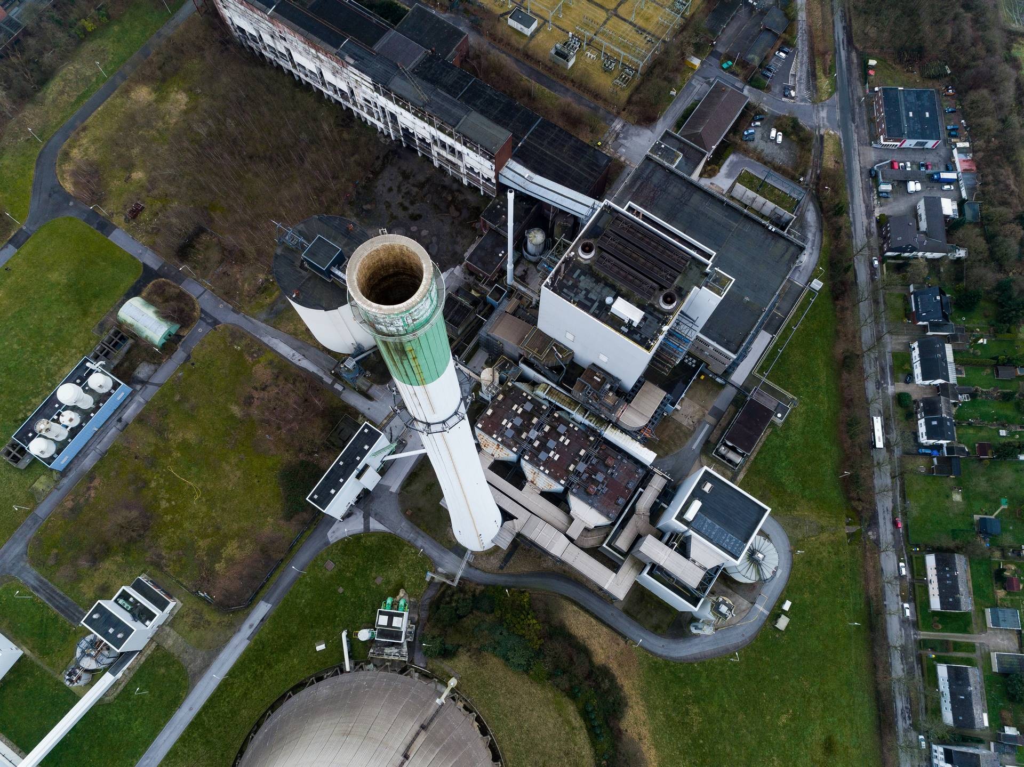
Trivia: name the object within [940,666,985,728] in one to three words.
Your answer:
house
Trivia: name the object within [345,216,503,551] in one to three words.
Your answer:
chimney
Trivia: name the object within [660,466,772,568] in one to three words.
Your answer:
building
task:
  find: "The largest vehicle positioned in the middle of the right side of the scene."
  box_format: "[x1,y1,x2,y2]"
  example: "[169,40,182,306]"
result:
[872,414,887,448]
